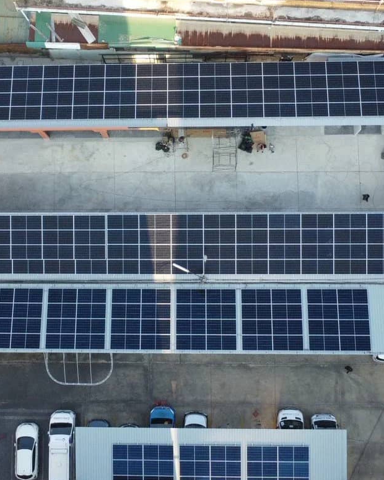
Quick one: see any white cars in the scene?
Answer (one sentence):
Yes, the picture does show a white car.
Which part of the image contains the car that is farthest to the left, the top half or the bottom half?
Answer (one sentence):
The car that is farthest to the left sits in the bottom half of the picture.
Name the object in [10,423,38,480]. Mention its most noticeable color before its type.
white car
